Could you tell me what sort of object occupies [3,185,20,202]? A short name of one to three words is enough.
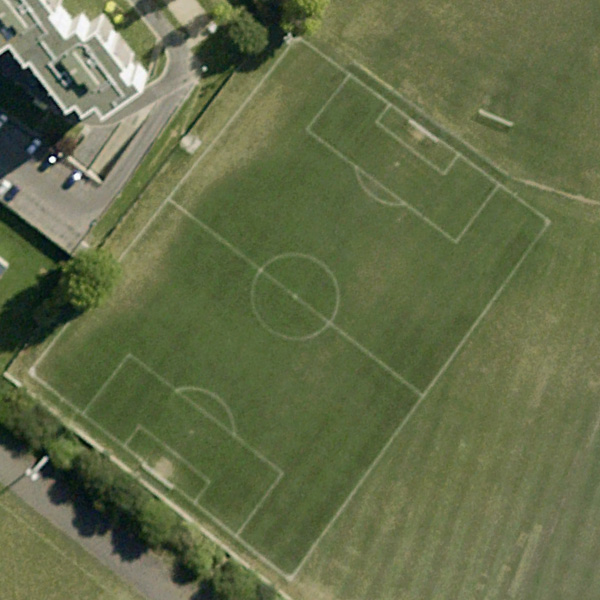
car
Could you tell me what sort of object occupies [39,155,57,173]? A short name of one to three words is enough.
car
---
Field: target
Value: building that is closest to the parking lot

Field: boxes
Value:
[0,0,154,120]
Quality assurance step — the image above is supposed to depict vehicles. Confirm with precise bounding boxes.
[63,172,80,190]
[0,112,8,126]
[3,185,20,202]
[0,178,12,196]
[39,155,57,173]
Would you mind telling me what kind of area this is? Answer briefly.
sports ground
